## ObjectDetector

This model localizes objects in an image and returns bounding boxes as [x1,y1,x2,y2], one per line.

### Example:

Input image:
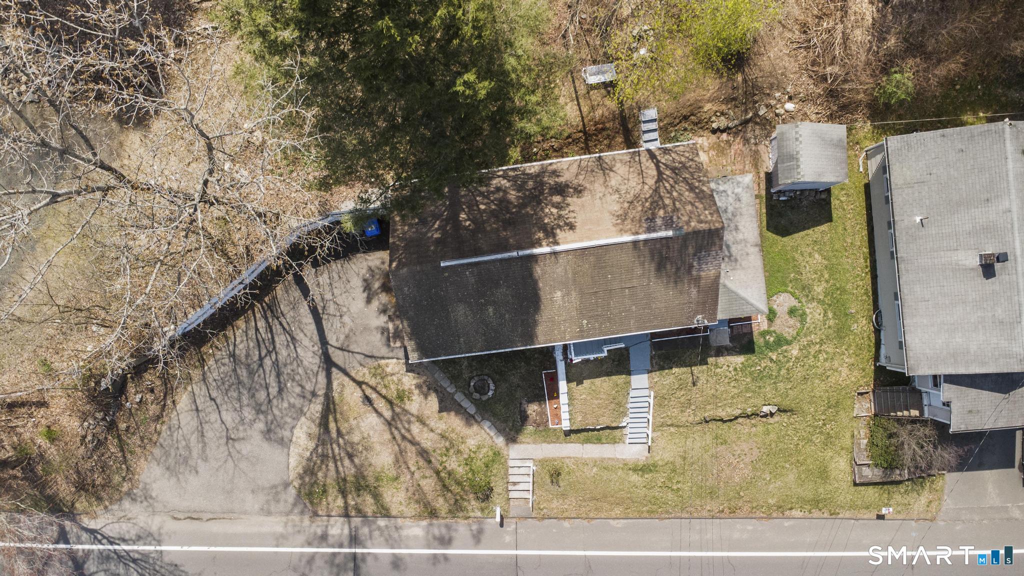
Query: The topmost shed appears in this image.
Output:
[761,120,846,189]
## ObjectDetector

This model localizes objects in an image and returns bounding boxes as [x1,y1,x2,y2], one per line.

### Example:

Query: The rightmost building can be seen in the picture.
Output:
[850,122,1024,434]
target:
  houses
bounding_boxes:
[386,140,769,364]
[850,122,1024,434]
